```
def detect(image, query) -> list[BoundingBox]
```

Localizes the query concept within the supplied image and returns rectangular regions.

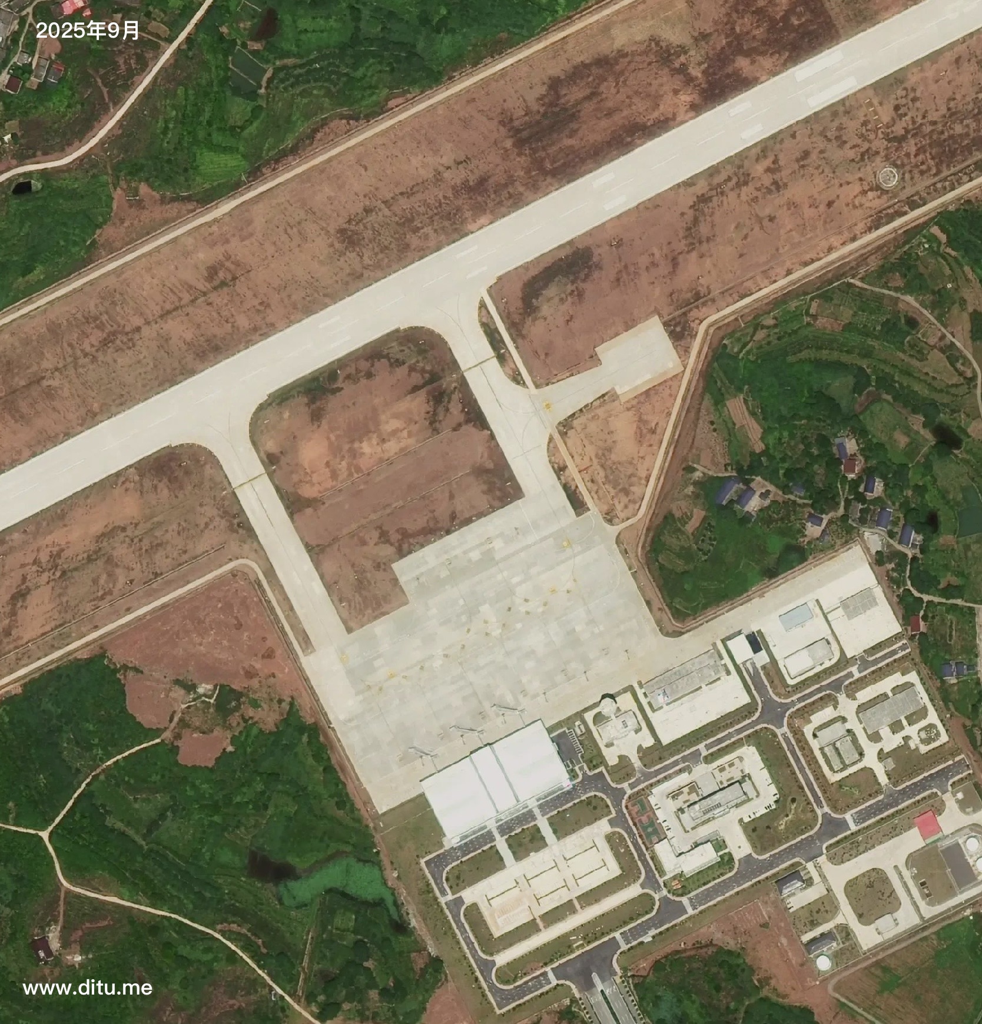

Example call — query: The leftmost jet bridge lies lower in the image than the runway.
[408,746,439,772]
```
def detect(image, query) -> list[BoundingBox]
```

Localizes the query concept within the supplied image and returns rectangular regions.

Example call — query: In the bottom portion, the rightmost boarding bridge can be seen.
[490,702,526,726]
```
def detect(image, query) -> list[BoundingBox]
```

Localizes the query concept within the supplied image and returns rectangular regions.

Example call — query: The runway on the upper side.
[0,0,982,530]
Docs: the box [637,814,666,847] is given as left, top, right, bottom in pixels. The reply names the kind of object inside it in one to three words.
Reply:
basketball court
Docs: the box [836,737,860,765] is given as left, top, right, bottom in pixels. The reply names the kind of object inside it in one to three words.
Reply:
building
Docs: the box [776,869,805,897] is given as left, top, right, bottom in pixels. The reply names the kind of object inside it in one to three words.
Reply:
house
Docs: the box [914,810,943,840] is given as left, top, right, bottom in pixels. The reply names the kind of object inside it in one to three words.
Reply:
shed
